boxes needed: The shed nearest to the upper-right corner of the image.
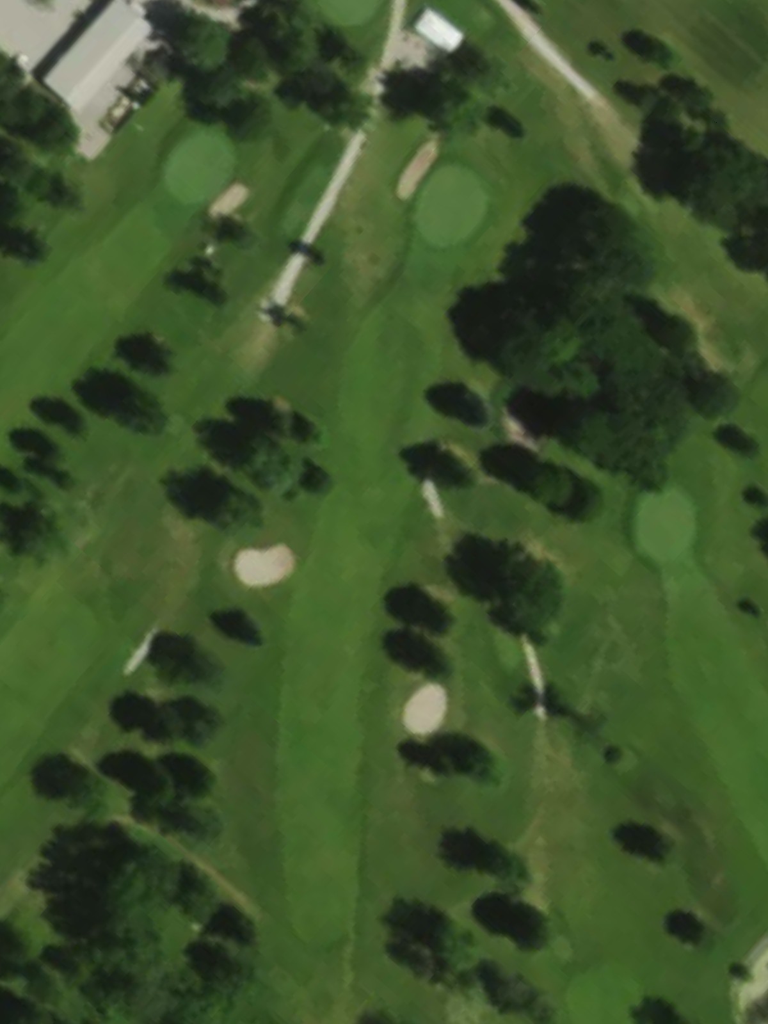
[414,7,465,54]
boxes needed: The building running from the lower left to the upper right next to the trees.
[40,0,151,111]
